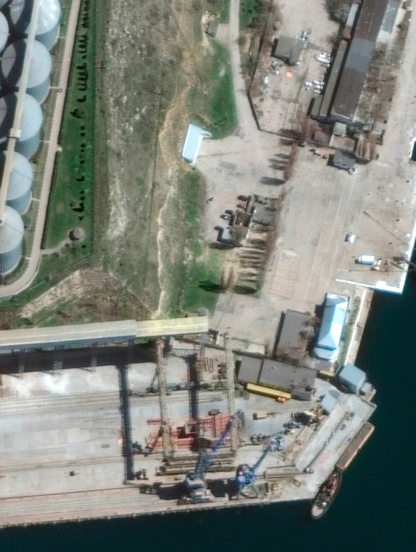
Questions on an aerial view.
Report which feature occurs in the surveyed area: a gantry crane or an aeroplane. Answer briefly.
gantry crane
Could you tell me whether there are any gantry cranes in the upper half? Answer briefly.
No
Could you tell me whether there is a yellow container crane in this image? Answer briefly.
No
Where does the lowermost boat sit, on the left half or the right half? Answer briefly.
right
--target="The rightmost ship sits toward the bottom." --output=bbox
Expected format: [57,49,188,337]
[336,420,374,472]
